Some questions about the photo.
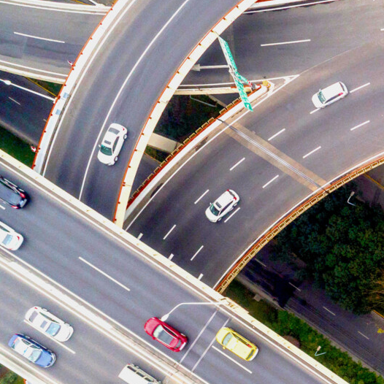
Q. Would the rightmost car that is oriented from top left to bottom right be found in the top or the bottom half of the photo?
bottom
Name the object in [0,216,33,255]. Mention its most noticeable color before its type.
white car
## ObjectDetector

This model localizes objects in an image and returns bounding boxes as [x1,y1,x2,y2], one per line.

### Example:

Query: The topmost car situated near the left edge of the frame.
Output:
[0,169,34,209]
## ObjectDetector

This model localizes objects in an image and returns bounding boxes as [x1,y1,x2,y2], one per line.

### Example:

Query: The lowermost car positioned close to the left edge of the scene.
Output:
[2,328,63,370]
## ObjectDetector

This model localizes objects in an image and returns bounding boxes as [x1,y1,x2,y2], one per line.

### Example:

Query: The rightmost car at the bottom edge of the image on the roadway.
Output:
[212,324,264,366]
